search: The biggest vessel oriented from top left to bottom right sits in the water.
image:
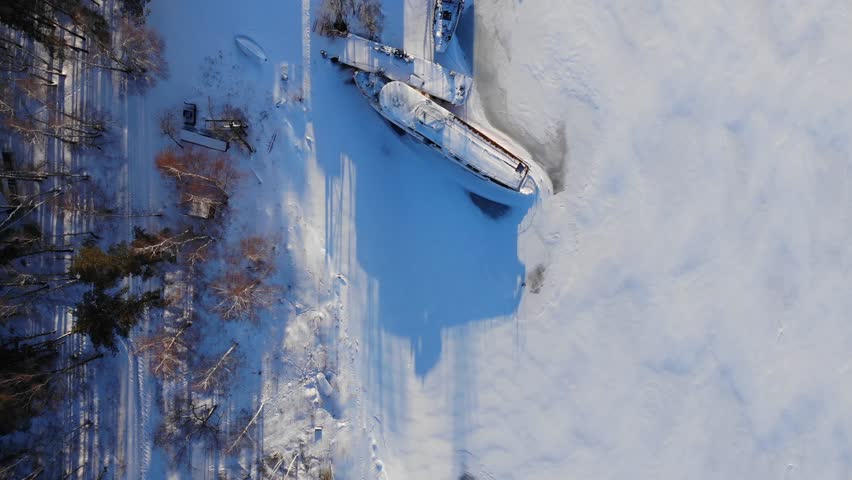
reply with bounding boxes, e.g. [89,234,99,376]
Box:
[355,73,535,197]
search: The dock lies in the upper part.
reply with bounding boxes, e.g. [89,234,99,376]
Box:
[337,34,471,106]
